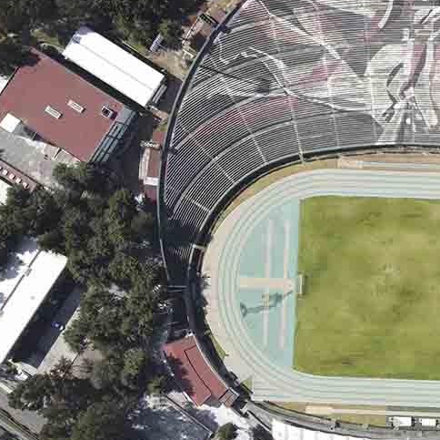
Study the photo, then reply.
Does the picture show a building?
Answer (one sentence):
Yes, this view includes a building.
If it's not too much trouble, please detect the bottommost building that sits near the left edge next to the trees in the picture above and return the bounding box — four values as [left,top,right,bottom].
[0,233,76,364]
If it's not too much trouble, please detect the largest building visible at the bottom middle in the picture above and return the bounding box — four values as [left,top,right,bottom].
[165,333,232,406]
